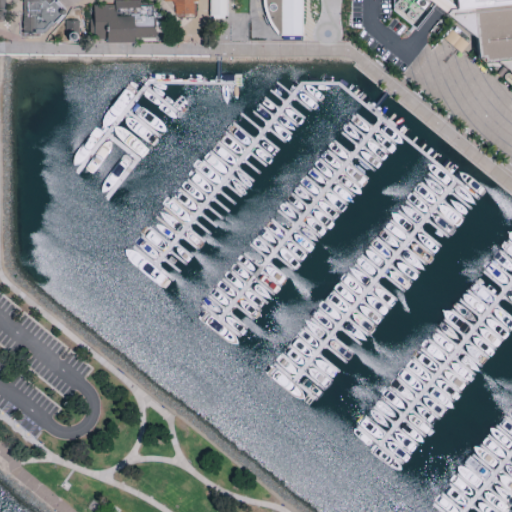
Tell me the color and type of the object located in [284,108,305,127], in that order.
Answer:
white boat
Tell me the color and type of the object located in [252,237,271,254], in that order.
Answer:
white boat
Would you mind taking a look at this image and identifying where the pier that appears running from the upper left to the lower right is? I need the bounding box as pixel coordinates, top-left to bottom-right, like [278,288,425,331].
[296,76,483,204]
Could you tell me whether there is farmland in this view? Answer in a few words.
No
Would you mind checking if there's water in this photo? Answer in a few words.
Yes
